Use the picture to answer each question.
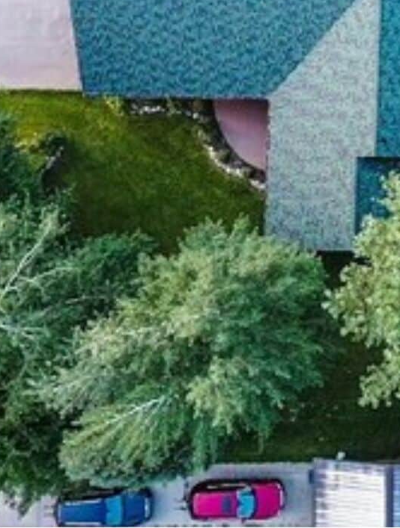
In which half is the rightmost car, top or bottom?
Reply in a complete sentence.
The bottom half of the photo is where the rightmost car is.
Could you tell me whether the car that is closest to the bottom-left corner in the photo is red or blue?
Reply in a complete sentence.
The color of the car that is closest to the bottom-left corner is blue.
